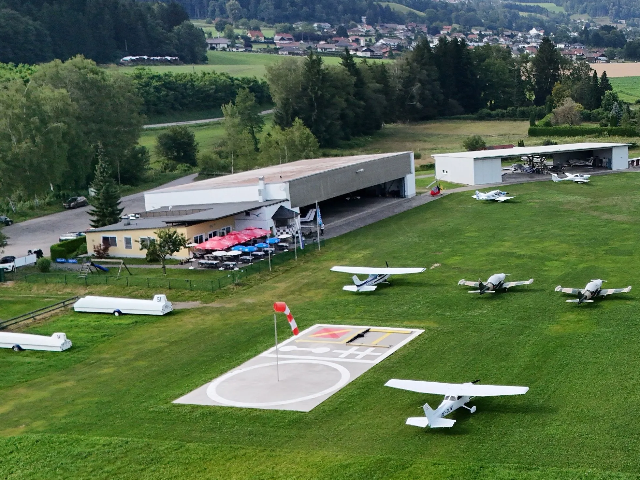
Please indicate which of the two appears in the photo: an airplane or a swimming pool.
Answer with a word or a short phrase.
airplane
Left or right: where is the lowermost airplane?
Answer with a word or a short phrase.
right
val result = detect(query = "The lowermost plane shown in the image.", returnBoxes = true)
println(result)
[386,379,530,430]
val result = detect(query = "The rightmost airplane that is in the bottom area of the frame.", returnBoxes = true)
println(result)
[557,281,629,301]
